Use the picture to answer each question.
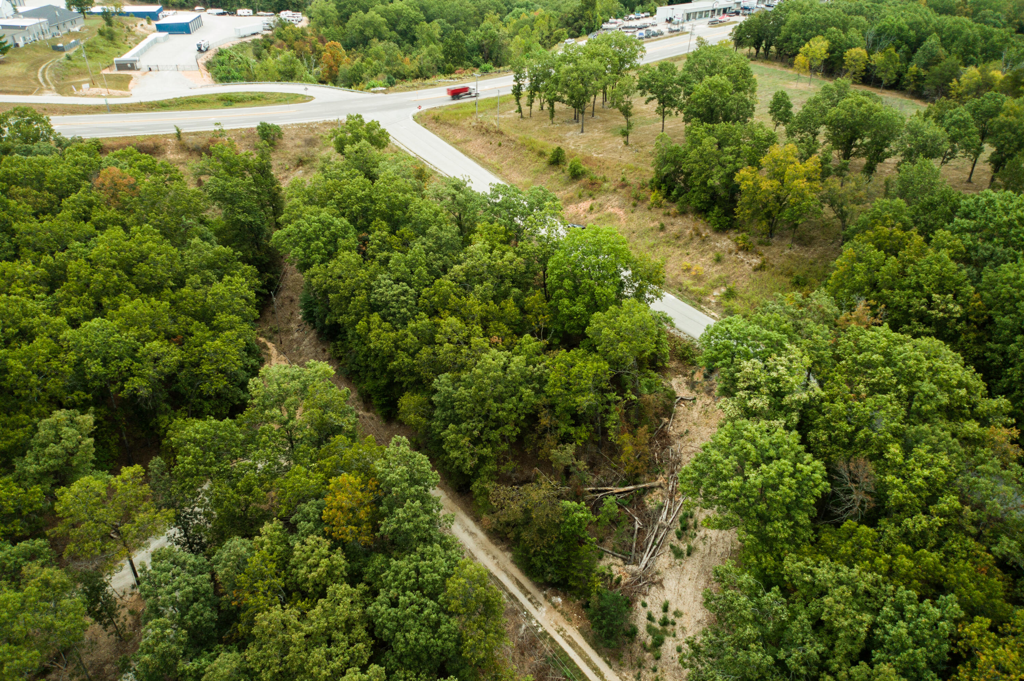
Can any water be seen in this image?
No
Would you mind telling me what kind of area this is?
forest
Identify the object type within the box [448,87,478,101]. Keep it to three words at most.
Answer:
vehicle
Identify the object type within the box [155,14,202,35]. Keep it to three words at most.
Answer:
building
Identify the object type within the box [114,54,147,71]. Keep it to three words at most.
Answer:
shed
